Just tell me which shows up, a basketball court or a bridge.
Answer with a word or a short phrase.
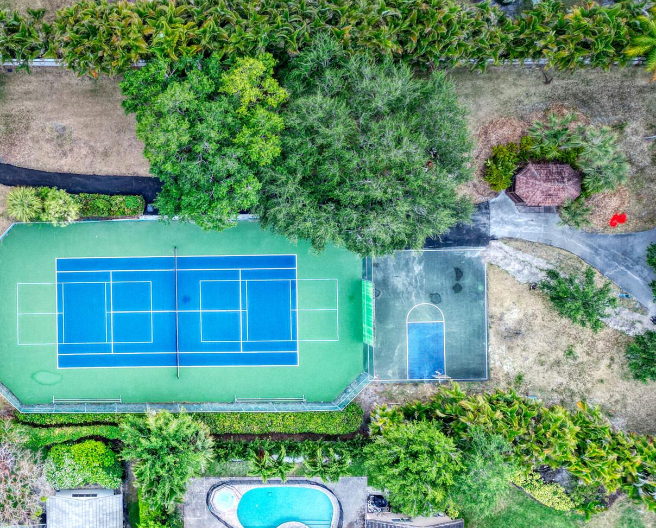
basketball court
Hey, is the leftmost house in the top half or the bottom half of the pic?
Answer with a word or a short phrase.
bottom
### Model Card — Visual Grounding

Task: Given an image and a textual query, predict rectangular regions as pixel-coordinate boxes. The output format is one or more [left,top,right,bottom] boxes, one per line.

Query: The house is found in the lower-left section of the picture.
[47,490,124,528]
